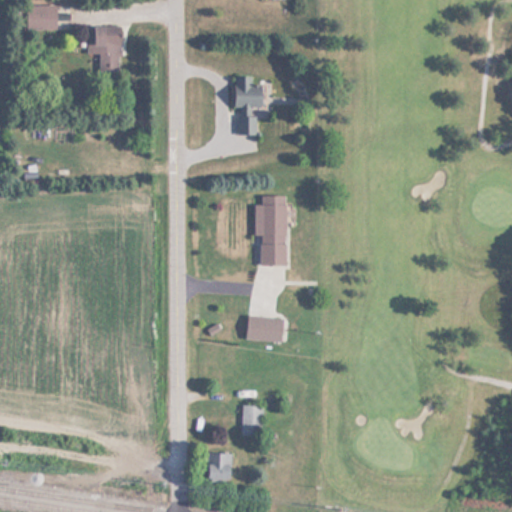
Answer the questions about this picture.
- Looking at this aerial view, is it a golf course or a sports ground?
golf course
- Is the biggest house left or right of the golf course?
left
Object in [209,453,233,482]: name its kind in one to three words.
house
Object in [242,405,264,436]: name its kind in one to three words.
house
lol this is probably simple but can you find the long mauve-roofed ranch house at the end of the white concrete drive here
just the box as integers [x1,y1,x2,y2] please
[256,196,288,266]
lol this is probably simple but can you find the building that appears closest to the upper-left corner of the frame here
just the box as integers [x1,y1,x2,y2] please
[28,4,58,30]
